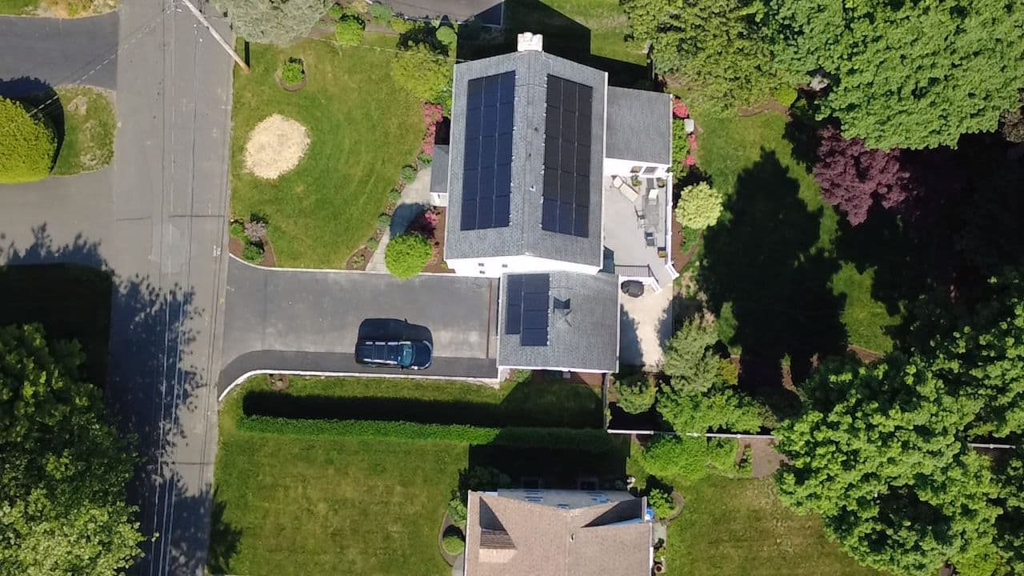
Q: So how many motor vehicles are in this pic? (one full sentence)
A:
In total, 1 motor vehicle can be seen.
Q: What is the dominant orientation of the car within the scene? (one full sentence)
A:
From this overhead view, the car appears to run from left to right.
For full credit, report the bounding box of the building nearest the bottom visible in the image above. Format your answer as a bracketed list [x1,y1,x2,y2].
[465,486,658,576]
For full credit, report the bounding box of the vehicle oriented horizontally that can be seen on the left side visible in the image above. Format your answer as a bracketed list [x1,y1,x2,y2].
[354,336,434,374]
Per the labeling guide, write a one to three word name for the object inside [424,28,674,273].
house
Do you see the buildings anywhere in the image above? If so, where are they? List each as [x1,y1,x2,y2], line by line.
[465,486,658,576]
[424,28,674,273]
